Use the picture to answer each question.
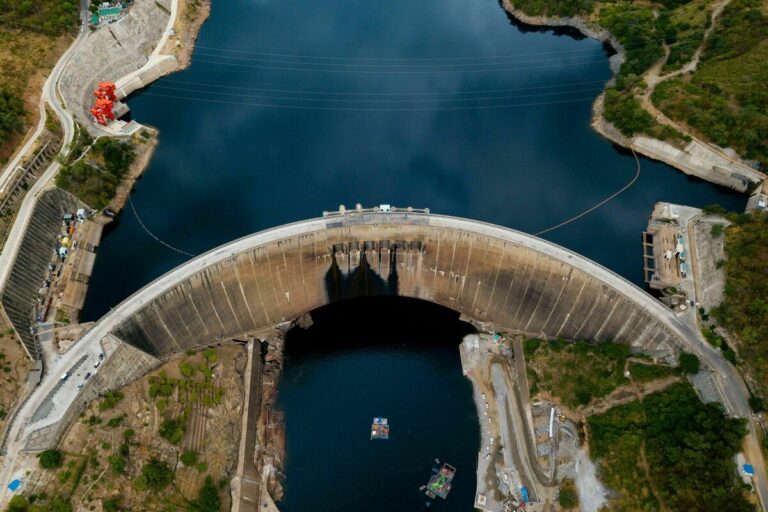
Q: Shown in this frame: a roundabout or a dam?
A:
dam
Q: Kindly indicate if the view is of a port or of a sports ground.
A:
port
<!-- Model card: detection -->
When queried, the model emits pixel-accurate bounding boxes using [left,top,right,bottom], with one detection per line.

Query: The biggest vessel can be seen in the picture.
[425,466,456,500]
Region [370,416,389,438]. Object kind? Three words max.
ship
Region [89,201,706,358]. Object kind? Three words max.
dam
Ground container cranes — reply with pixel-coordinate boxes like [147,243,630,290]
[91,78,116,100]
[87,96,114,122]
